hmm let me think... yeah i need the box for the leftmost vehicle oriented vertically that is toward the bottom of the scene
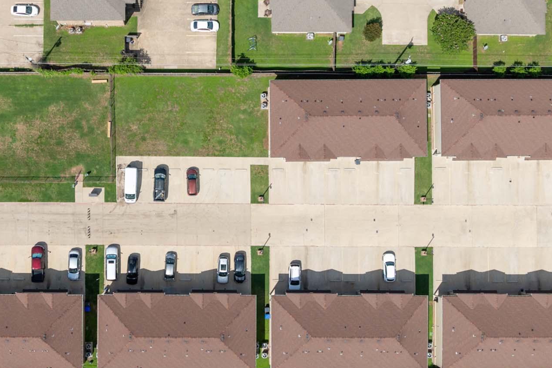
[31,245,45,282]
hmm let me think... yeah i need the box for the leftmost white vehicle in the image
[11,2,39,16]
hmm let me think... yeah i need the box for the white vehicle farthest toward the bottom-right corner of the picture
[382,253,396,281]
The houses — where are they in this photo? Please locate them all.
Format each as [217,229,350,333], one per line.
[432,78,552,161]
[0,287,85,368]
[433,288,552,368]
[269,80,428,162]
[271,0,353,34]
[270,288,429,368]
[97,288,257,368]
[461,0,545,36]
[50,0,143,25]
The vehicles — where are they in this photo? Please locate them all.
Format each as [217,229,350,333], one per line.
[191,18,219,33]
[185,167,199,196]
[153,167,167,200]
[124,254,139,283]
[216,256,230,283]
[11,2,39,16]
[31,245,45,282]
[191,2,219,15]
[67,251,80,279]
[288,262,302,288]
[233,251,246,281]
[382,253,396,281]
[163,252,177,279]
[123,168,137,202]
[104,246,118,279]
